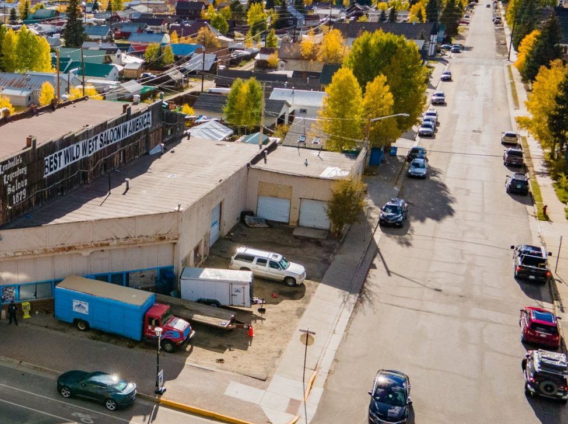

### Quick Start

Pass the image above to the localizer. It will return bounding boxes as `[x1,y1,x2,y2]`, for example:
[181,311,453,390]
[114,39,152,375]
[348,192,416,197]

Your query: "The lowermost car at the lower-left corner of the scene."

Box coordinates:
[54,370,139,414]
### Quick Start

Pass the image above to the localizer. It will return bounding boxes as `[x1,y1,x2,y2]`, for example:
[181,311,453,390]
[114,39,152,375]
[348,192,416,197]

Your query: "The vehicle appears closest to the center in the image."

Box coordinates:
[228,243,301,284]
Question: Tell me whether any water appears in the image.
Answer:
No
